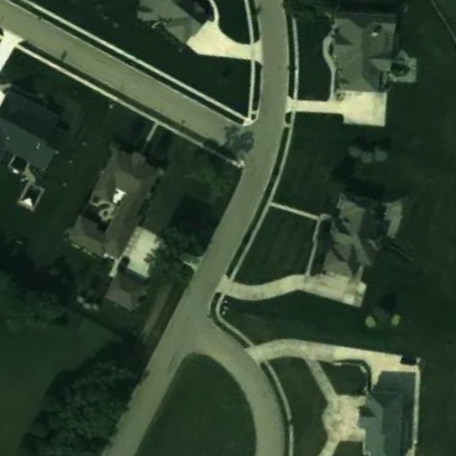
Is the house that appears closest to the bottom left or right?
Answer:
right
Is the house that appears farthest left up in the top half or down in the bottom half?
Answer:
top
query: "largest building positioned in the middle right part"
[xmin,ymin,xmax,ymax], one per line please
[320,190,390,280]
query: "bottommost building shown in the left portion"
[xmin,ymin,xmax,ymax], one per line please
[105,270,148,314]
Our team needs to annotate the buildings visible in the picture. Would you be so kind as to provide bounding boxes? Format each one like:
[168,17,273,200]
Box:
[65,145,159,261]
[105,270,148,314]
[0,87,60,170]
[320,190,390,280]
[133,0,211,46]
[358,371,415,456]
[333,13,399,99]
